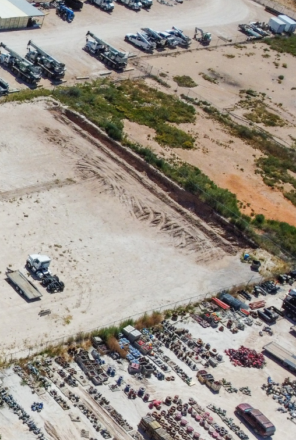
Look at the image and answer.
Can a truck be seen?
Yes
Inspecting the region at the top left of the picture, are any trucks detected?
Yes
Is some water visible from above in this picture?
No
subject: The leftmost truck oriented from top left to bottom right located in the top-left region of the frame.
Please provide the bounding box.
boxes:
[0,43,47,86]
